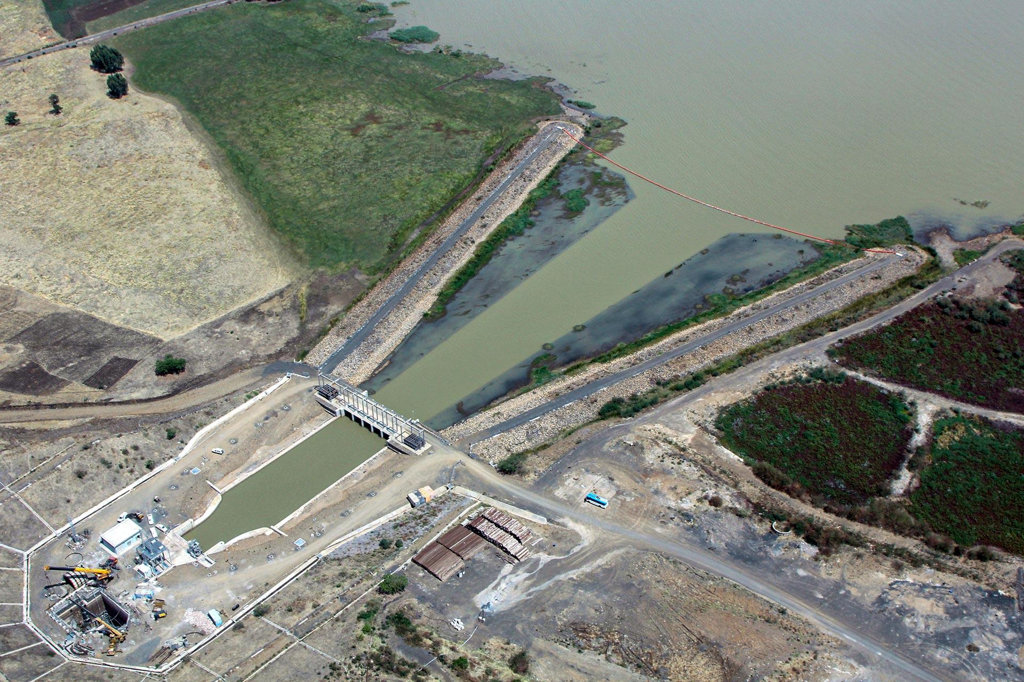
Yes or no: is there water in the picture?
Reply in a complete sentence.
Yes, there's water in this view.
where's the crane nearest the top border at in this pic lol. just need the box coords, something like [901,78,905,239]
[44,554,117,585]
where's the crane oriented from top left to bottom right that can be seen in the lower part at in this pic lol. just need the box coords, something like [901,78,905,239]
[66,596,131,654]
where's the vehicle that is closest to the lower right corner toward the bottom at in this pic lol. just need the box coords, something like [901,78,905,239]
[584,491,609,505]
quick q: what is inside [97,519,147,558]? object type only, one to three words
building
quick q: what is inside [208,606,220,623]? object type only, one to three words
vehicle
